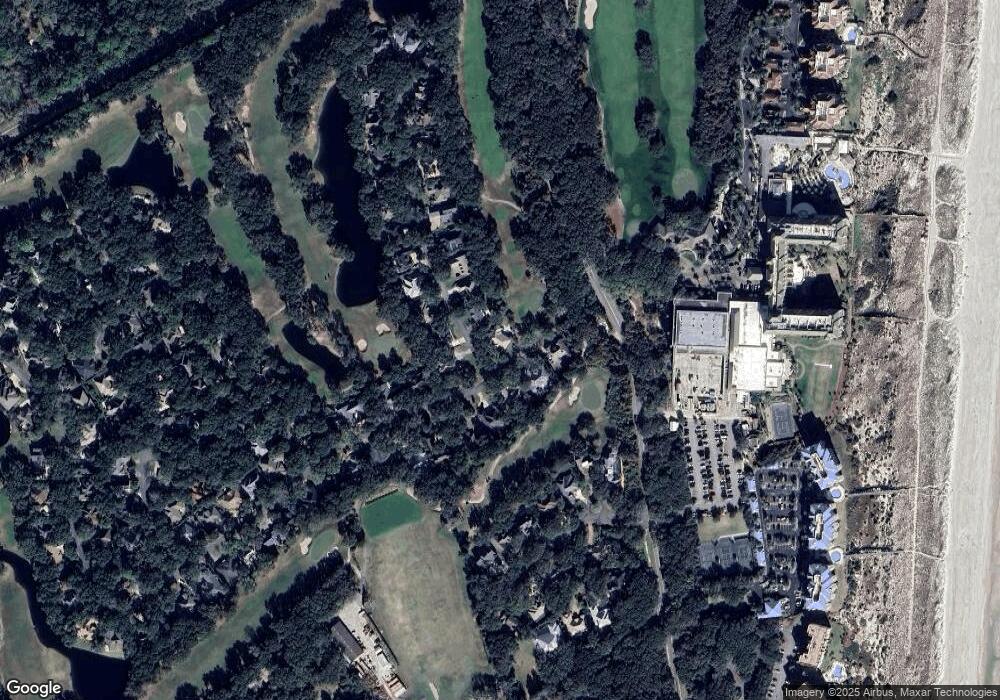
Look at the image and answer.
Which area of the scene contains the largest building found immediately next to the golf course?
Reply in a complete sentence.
Look in the right portion of the view to spot the largest building found immediately next to the golf course.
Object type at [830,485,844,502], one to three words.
swimming pool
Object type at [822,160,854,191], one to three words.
swimming pool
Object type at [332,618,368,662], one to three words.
shed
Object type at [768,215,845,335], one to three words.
building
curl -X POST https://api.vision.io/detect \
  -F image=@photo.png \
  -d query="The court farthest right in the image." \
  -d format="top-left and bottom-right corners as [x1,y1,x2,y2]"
[772,402,795,437]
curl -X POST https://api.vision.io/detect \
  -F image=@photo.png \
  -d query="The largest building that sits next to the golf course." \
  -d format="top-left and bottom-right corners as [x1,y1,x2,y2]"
[672,293,783,410]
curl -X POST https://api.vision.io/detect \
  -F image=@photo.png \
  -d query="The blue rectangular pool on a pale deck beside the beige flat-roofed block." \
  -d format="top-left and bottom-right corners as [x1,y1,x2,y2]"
[826,661,847,683]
